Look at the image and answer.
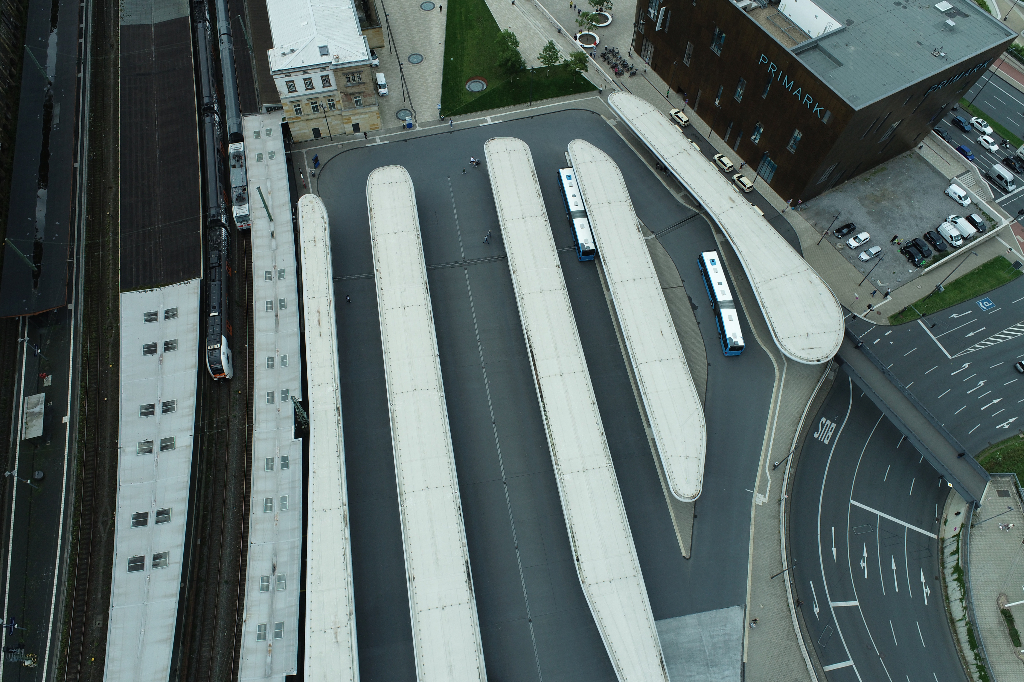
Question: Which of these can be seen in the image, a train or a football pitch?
train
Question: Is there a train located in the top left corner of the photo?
Yes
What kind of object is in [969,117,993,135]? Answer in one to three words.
car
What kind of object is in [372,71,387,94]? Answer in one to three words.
vehicle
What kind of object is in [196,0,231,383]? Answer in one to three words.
train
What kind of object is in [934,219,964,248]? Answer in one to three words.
van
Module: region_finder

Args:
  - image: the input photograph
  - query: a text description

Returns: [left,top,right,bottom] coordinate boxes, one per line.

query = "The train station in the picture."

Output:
[0,0,293,682]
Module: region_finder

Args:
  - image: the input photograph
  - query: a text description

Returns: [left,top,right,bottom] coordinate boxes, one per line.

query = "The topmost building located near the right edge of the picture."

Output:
[634,0,1017,203]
